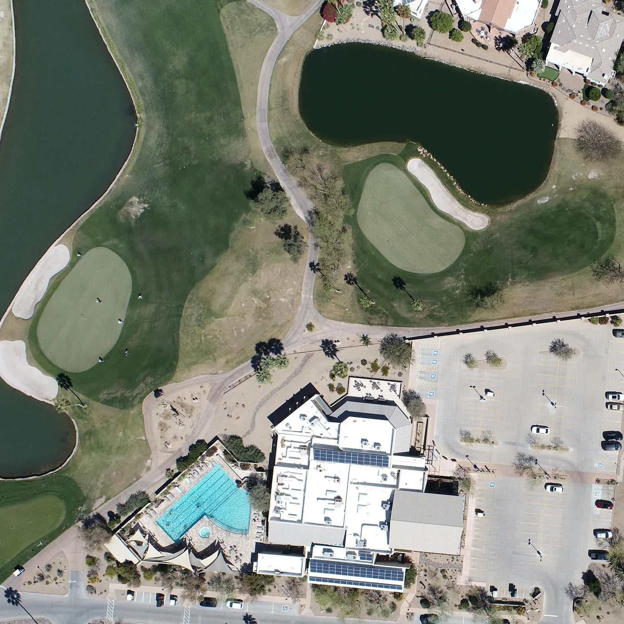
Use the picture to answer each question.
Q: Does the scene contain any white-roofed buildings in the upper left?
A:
No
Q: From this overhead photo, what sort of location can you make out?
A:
golf course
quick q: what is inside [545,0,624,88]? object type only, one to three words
house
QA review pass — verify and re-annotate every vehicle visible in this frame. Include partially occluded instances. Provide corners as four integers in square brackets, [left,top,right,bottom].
[595,500,613,509]
[589,551,609,561]
[602,443,621,451]
[603,432,622,440]
[594,530,611,540]
[128,592,136,601]
[13,568,25,576]
[546,485,564,493]
[607,392,624,400]
[421,614,439,624]
[607,403,624,411]
[226,599,244,608]
[487,391,495,397]
[171,597,179,606]
[493,589,499,598]
[157,595,165,606]
[477,511,486,517]
[201,598,219,607]
[614,329,624,338]
[532,426,550,435]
